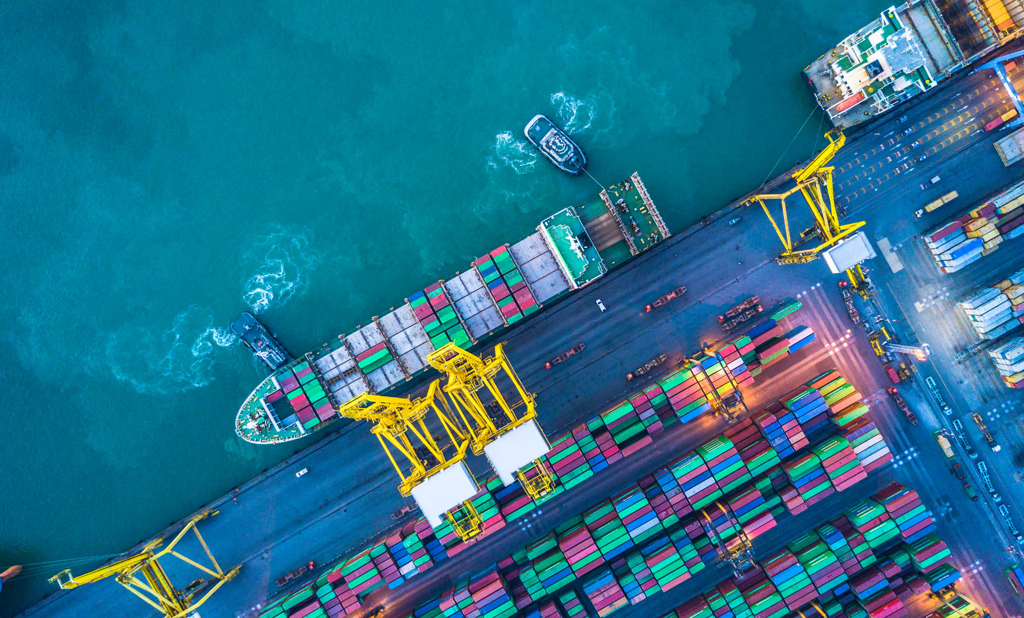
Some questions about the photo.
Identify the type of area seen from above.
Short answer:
port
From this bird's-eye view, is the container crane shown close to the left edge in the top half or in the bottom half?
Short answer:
bottom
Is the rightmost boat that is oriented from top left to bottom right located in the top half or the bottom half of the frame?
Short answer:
top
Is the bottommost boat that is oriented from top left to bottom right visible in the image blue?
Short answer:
Yes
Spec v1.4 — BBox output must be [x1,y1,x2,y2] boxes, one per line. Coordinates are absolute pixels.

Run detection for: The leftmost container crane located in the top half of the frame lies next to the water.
[727,118,887,302]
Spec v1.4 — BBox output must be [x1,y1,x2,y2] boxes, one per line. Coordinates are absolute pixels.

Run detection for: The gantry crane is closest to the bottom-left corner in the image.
[40,505,251,618]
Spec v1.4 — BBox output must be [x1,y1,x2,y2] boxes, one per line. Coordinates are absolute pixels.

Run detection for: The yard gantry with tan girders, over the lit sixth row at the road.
[932,582,997,618]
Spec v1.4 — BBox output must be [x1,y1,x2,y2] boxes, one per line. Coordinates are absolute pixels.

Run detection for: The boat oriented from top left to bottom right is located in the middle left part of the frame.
[232,309,291,368]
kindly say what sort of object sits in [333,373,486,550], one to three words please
container crane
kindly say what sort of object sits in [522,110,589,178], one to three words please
boat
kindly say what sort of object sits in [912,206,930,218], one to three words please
vehicle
